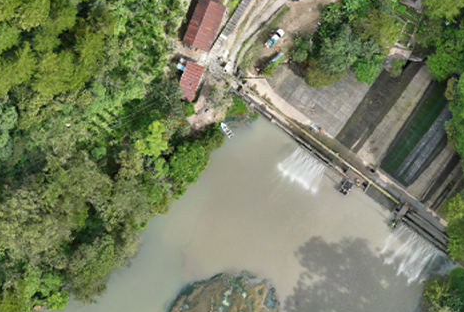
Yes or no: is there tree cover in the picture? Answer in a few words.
Yes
